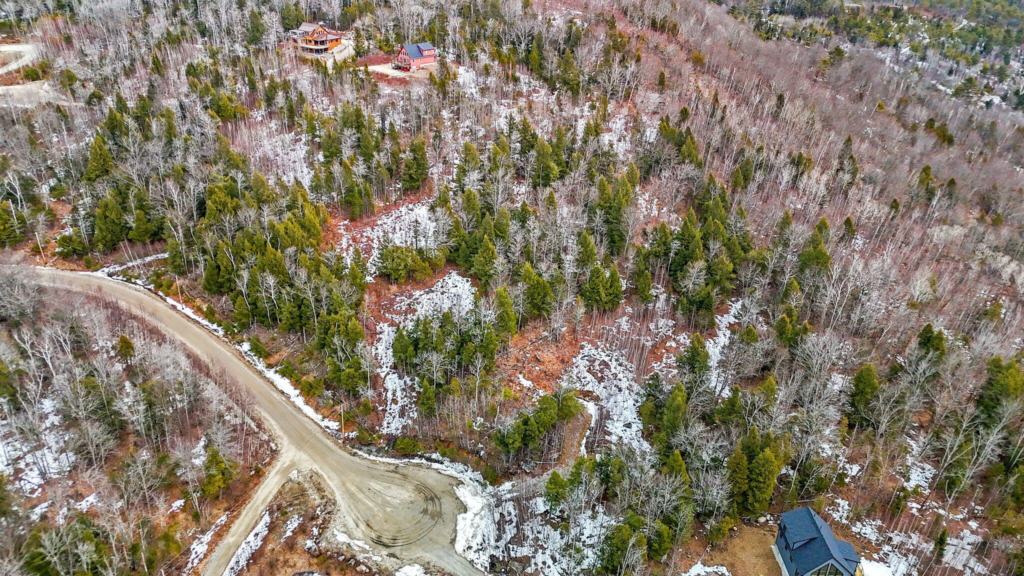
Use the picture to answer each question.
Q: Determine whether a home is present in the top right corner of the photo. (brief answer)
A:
No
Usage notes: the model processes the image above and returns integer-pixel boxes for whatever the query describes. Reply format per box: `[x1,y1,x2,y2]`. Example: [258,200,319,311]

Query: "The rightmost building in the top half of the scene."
[393,40,434,70]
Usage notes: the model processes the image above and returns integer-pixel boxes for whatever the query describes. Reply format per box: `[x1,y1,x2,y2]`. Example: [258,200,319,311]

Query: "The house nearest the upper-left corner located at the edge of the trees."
[287,22,342,52]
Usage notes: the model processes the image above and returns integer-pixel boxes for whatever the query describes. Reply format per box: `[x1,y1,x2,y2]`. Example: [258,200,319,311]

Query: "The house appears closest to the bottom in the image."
[774,503,864,576]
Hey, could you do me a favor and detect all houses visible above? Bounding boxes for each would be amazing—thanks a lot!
[393,40,434,70]
[287,22,342,52]
[774,503,864,576]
